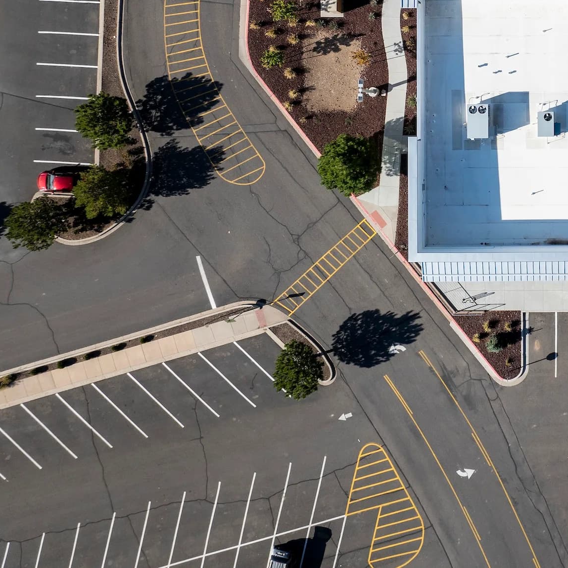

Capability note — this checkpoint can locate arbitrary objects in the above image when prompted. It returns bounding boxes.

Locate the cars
[265,544,296,568]
[41,168,93,195]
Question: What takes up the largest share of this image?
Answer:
paved ground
